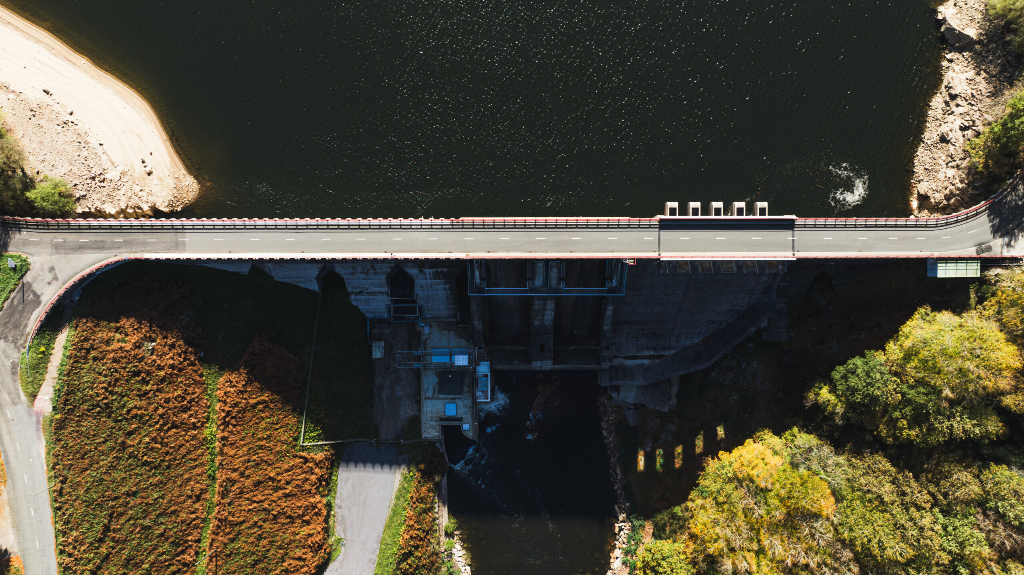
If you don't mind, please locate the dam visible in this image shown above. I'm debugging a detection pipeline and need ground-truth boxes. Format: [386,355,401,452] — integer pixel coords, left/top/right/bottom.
[0,177,1023,388]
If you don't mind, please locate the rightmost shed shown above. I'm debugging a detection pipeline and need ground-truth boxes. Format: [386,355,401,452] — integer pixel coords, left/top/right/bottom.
[924,261,980,277]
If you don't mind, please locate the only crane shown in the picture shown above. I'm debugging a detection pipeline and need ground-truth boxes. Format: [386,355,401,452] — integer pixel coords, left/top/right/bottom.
[395,349,476,368]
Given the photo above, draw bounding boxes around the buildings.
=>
[924,261,980,277]
[418,321,491,439]
[372,341,385,358]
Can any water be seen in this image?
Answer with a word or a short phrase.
Yes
